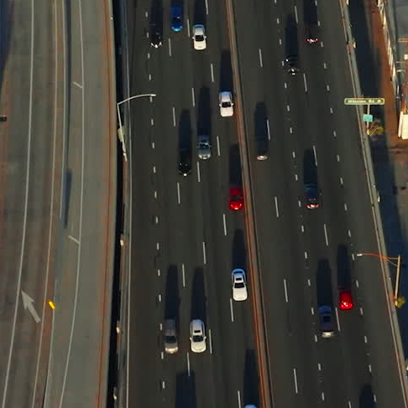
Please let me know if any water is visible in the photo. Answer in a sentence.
No, there's no water in this view.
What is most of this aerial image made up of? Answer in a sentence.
Most of the picture is covered by paved ground.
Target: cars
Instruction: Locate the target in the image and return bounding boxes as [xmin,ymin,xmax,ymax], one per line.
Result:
[189,321,207,352]
[170,7,185,29]
[254,135,270,162]
[229,185,244,214]
[304,21,320,43]
[149,23,164,47]
[192,25,207,49]
[303,184,320,211]
[162,320,180,352]
[283,52,300,78]
[218,90,234,119]
[231,271,249,301]
[176,149,193,174]
[317,307,335,339]
[196,134,212,162]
